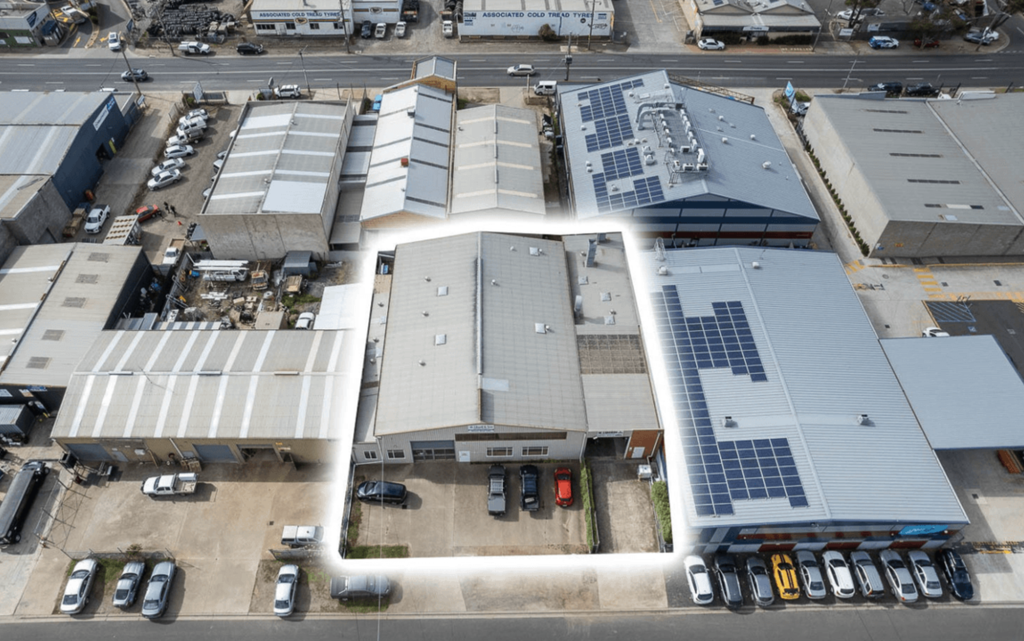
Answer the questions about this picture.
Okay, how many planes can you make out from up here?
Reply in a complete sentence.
There are no planes in this view.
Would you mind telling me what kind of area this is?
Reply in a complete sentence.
This looks like an industrial area.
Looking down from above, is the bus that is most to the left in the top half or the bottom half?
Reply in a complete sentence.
The bus that is most to the left sits in the bottom half of the picture.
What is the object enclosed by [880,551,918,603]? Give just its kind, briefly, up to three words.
car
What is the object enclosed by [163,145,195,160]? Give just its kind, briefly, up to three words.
car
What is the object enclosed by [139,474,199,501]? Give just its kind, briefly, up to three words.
vehicle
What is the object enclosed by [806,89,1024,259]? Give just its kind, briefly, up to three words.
warehouse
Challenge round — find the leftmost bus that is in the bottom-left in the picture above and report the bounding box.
[0,458,56,555]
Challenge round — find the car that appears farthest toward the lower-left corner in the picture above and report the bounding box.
[59,560,100,615]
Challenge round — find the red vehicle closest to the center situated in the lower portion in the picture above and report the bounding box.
[553,468,575,508]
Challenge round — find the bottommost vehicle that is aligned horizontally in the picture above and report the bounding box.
[330,573,392,602]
